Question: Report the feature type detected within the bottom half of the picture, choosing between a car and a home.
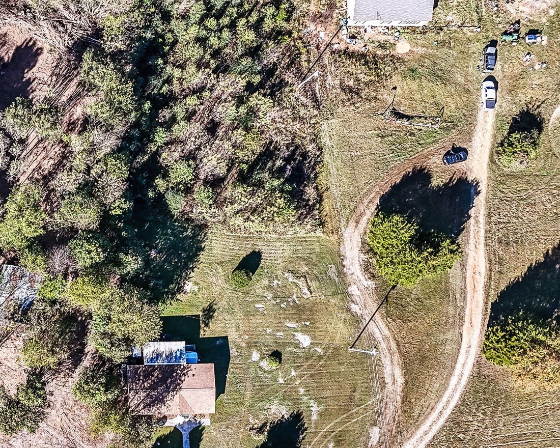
home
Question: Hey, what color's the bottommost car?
blue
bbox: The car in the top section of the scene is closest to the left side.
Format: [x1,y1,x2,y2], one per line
[440,146,467,166]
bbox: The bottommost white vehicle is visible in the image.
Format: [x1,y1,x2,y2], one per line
[480,78,496,112]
